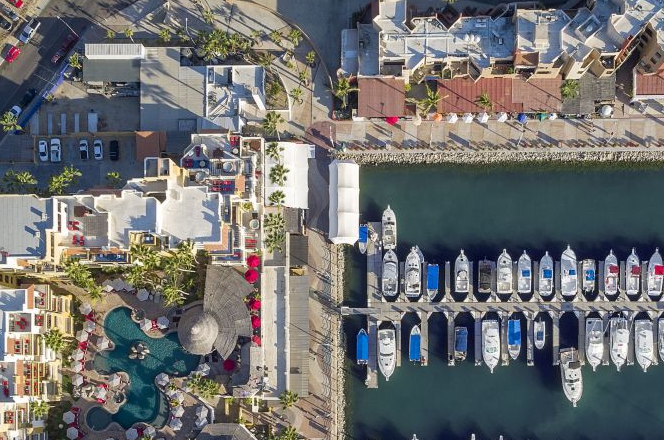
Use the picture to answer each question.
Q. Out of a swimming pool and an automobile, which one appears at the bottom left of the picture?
swimming pool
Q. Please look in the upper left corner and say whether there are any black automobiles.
Yes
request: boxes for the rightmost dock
[367,222,664,388]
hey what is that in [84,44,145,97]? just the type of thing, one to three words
building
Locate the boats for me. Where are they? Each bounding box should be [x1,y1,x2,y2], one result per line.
[603,249,620,296]
[355,329,368,367]
[581,259,597,295]
[404,244,423,298]
[409,326,422,364]
[358,221,368,253]
[559,244,578,297]
[645,247,664,297]
[480,320,501,372]
[376,323,396,380]
[381,247,398,297]
[495,248,515,295]
[453,249,470,294]
[507,316,521,360]
[454,323,468,360]
[381,205,397,250]
[584,319,609,370]
[478,260,492,297]
[427,261,439,300]
[532,314,546,349]
[608,317,633,371]
[633,319,659,371]
[538,250,555,297]
[624,247,646,295]
[558,348,589,407]
[517,250,532,295]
